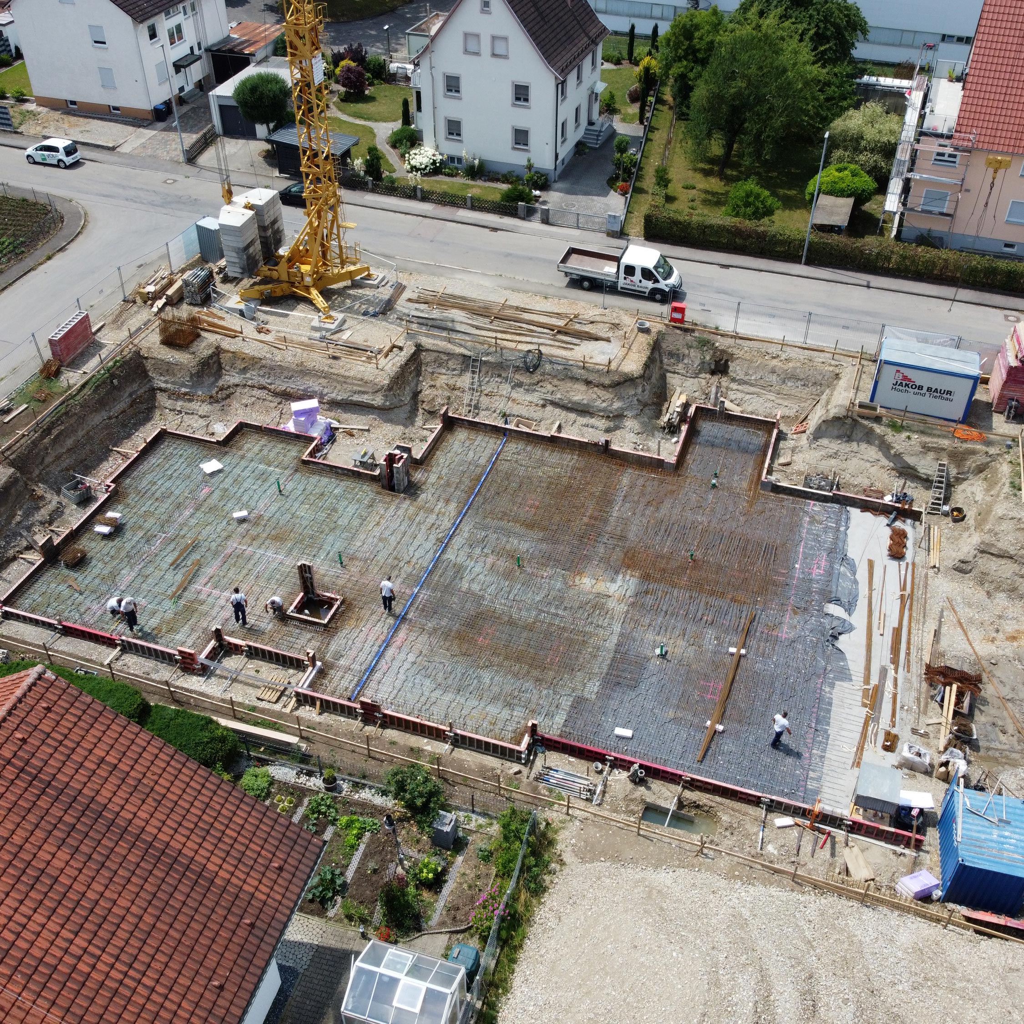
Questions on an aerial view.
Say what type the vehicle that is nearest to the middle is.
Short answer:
truck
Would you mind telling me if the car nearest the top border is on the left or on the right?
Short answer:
left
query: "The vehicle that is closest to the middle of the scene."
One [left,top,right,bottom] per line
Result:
[559,238,695,302]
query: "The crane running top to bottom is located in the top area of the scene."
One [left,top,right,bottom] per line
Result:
[237,0,377,325]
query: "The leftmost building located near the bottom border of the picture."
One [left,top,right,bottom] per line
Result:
[0,665,334,1024]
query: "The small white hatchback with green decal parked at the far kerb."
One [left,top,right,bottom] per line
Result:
[21,137,82,168]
